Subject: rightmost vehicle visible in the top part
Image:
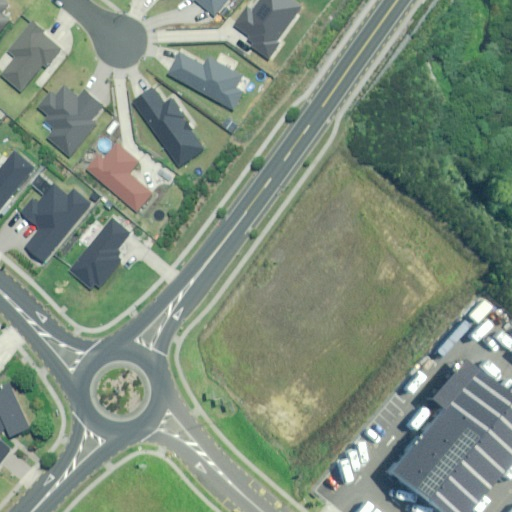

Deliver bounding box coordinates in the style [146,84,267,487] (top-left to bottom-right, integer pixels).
[236,40,250,52]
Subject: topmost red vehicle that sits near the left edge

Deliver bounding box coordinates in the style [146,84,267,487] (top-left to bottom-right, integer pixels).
[23,224,38,238]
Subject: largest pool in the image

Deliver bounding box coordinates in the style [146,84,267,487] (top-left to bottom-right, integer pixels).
[97,138,112,154]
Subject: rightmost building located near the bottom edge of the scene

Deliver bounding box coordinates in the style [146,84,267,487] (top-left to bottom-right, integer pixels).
[386,358,512,512]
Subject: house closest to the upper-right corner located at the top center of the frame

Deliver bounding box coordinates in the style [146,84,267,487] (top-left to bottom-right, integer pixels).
[233,0,303,62]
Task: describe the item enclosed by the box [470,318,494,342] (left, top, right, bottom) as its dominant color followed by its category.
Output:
white truck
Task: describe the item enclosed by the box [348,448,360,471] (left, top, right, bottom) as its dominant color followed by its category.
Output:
white vehicle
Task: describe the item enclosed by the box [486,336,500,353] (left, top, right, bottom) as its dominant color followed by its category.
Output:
white vehicle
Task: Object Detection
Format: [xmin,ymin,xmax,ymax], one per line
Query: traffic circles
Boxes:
[72,342,170,440]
